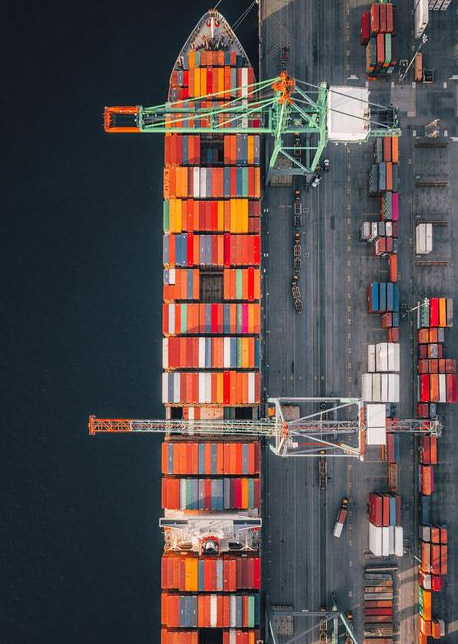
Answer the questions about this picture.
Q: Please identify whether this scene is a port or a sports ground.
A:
port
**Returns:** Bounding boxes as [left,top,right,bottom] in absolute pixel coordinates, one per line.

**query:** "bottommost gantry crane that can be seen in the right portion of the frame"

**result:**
[268,598,362,644]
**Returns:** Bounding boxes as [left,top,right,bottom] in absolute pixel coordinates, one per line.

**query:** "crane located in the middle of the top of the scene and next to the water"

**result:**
[103,69,405,192]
